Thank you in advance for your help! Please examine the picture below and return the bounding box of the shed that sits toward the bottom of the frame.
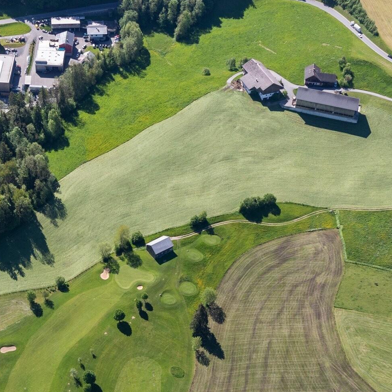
[147,236,174,257]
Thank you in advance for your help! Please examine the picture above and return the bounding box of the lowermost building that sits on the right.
[283,85,360,123]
